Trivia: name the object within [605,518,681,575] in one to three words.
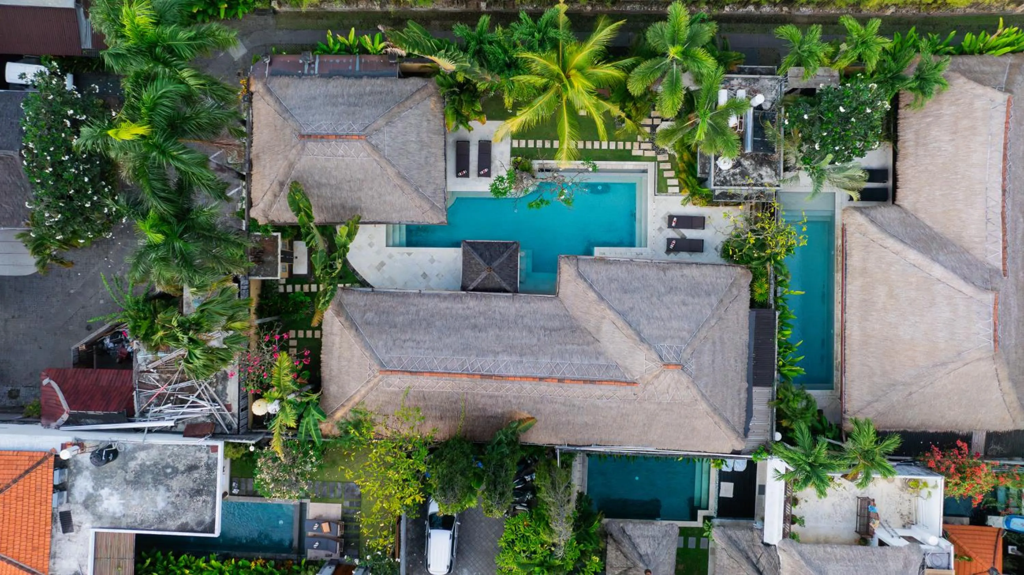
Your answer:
shed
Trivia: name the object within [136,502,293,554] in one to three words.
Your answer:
swimming pool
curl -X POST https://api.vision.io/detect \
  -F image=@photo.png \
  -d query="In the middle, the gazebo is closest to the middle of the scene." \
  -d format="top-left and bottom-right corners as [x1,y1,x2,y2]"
[458,237,523,293]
